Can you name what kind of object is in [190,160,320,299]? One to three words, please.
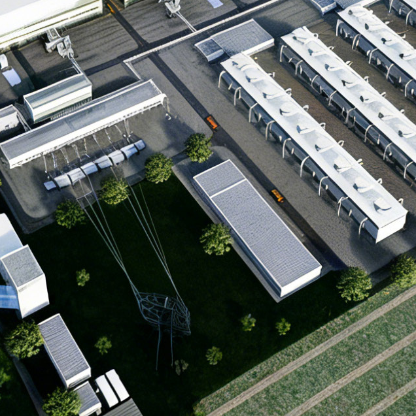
warehouse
